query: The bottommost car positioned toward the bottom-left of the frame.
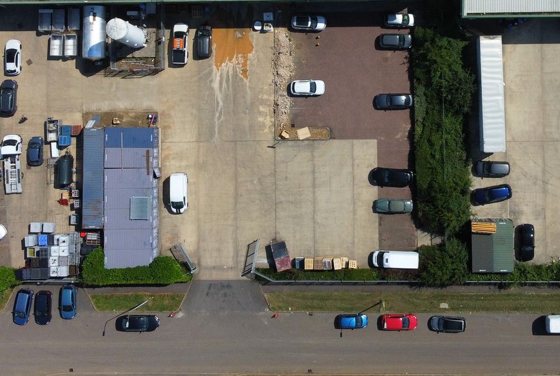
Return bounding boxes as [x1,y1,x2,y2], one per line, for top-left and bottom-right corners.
[117,314,160,334]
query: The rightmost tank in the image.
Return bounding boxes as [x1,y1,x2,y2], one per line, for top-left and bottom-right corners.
[108,19,154,51]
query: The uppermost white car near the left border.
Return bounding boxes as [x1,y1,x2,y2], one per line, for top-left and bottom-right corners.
[3,40,23,76]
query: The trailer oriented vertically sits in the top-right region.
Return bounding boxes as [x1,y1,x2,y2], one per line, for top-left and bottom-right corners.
[476,36,505,152]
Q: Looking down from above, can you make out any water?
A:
No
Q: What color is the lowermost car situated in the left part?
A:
black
